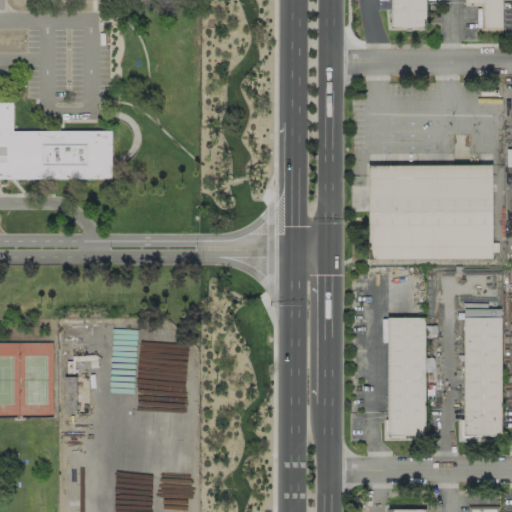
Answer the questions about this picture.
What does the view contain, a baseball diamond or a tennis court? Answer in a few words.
tennis court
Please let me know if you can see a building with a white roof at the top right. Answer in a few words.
Yes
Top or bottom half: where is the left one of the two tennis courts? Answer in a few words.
bottom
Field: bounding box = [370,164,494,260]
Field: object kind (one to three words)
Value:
building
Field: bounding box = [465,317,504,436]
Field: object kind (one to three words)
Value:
building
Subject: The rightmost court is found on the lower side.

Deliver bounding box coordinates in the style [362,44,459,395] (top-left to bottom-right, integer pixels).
[20,344,54,416]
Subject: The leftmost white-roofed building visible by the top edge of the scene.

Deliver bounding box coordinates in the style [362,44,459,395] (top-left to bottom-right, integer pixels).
[391,0,428,28]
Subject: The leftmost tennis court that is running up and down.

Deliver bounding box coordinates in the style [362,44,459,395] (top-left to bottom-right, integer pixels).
[0,344,20,416]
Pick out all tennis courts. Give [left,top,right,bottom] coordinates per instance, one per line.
[20,344,54,416]
[0,344,20,416]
